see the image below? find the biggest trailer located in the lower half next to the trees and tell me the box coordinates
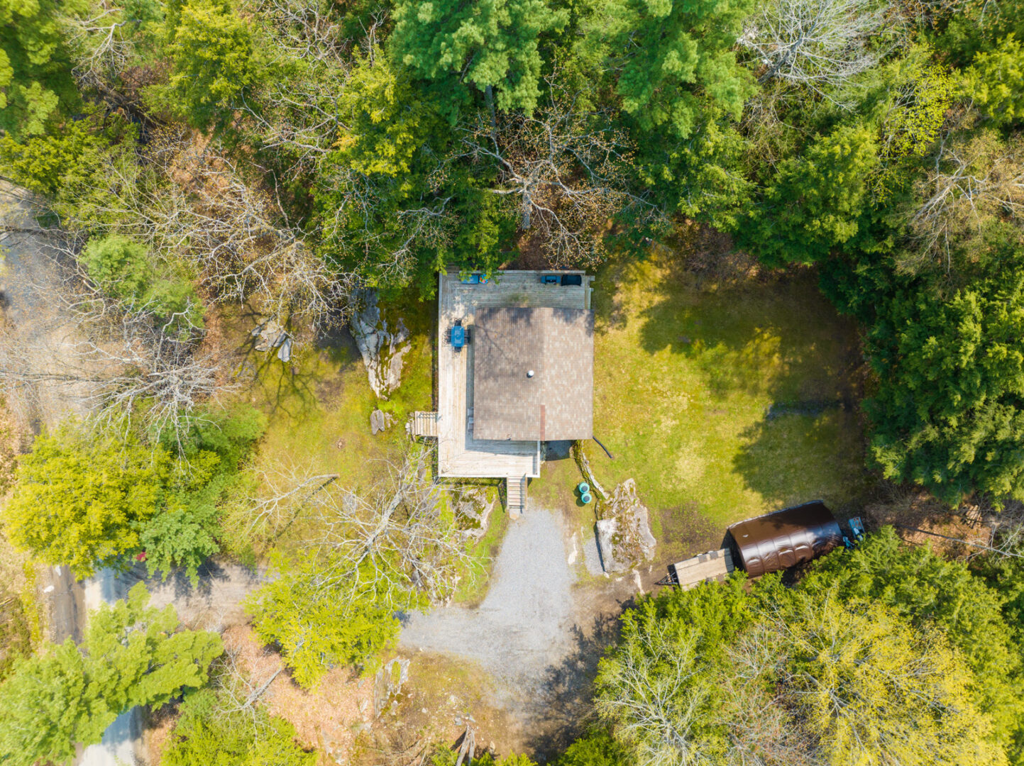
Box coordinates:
[656,548,734,594]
